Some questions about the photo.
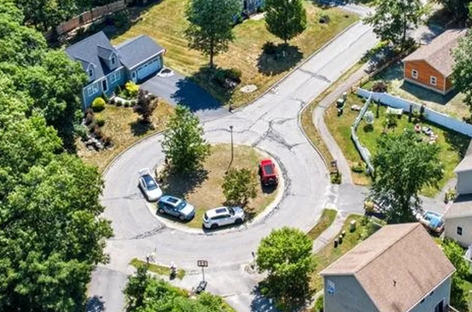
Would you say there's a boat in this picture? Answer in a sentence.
Yes, the frame does contain a boat.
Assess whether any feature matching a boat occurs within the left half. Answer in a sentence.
No, I see no boat within the left half.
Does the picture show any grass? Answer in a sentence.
Yes, the picture does contain grass.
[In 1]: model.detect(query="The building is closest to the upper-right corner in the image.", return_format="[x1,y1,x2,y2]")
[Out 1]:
[403,28,472,96]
